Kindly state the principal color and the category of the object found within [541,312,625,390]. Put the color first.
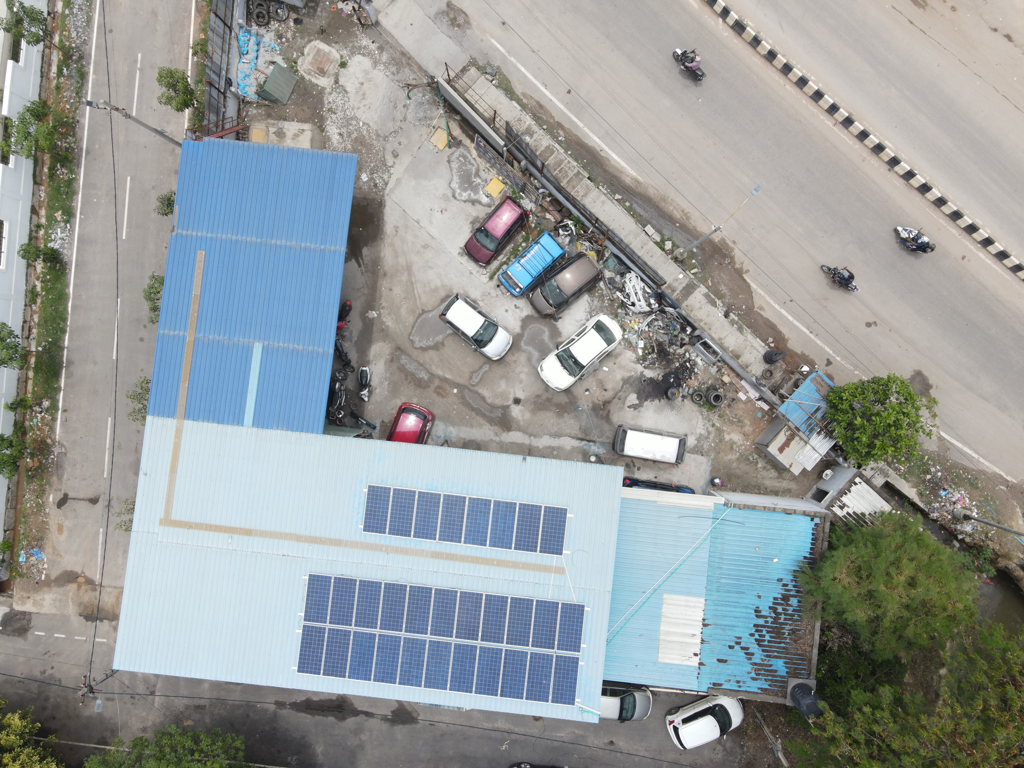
white car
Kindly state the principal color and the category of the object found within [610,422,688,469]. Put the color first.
white van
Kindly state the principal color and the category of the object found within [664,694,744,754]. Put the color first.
white car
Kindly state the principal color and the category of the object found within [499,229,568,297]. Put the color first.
blue van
